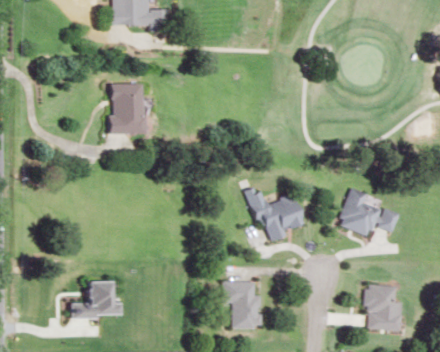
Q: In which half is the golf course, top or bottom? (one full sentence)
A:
The top half of the photo is where the golf course is.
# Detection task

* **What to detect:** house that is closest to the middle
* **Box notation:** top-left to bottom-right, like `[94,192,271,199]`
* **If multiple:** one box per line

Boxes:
[243,190,304,242]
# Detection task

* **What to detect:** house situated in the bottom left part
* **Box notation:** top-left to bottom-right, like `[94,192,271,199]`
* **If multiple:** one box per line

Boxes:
[70,282,124,318]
